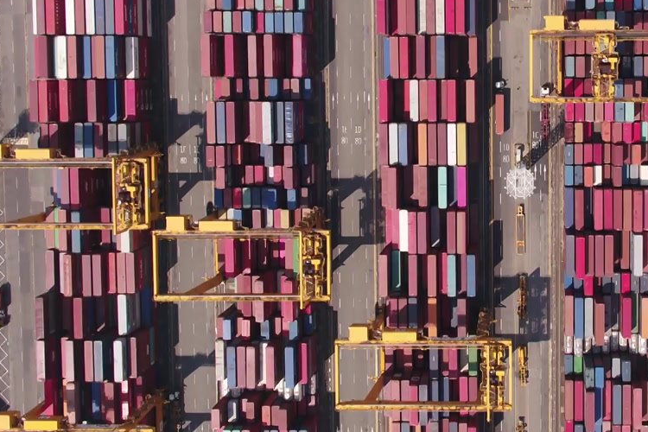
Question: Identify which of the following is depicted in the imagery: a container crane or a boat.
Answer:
container crane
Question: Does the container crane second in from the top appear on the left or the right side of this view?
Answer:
left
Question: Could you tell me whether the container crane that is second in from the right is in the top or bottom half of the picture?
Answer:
bottom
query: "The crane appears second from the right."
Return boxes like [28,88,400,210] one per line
[335,300,512,427]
